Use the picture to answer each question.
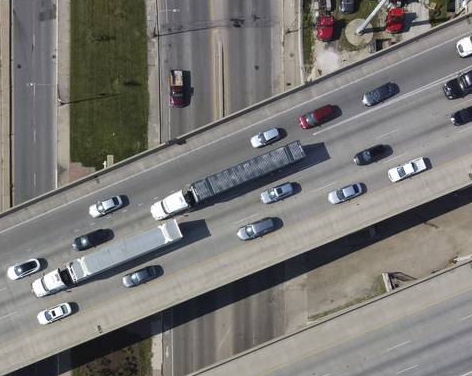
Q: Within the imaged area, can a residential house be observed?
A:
No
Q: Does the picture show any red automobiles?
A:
Yes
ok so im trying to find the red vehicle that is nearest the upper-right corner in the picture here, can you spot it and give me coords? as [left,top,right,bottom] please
[385,6,403,38]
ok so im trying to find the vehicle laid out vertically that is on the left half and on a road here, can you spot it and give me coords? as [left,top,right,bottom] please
[170,69,186,109]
